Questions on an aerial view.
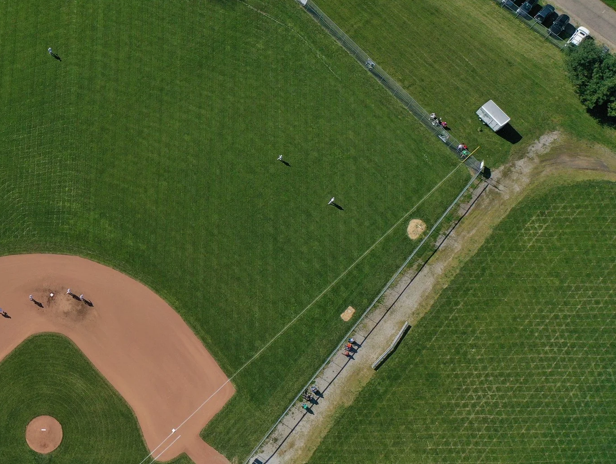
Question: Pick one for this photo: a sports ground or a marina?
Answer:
sports ground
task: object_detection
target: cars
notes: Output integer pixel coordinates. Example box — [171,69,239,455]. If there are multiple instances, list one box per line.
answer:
[564,24,589,48]
[502,0,516,7]
[518,0,540,18]
[533,0,558,24]
[548,10,572,35]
